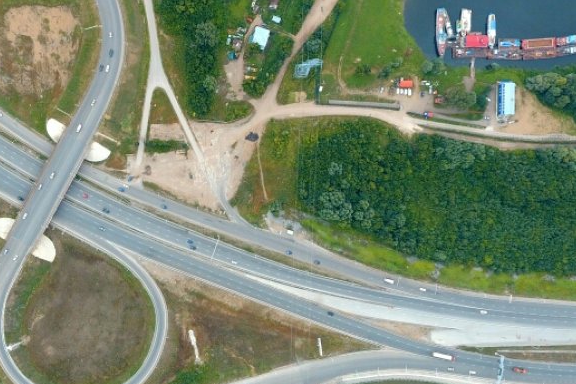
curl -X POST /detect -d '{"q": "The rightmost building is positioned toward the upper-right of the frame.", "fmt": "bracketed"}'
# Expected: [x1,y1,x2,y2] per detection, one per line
[493,81,516,120]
